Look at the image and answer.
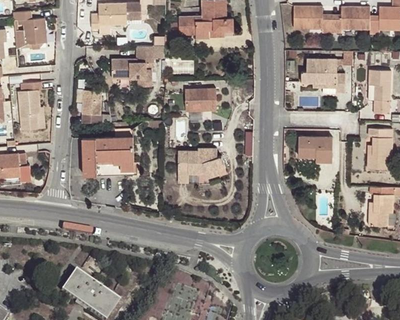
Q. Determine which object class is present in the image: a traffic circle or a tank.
traffic circle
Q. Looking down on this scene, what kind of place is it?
residential area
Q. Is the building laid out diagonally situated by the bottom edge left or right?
left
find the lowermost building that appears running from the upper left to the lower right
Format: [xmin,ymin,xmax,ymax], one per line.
[62,266,120,317]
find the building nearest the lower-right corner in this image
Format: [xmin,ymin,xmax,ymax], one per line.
[368,186,400,227]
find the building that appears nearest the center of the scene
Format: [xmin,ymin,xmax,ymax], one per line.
[177,147,228,183]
